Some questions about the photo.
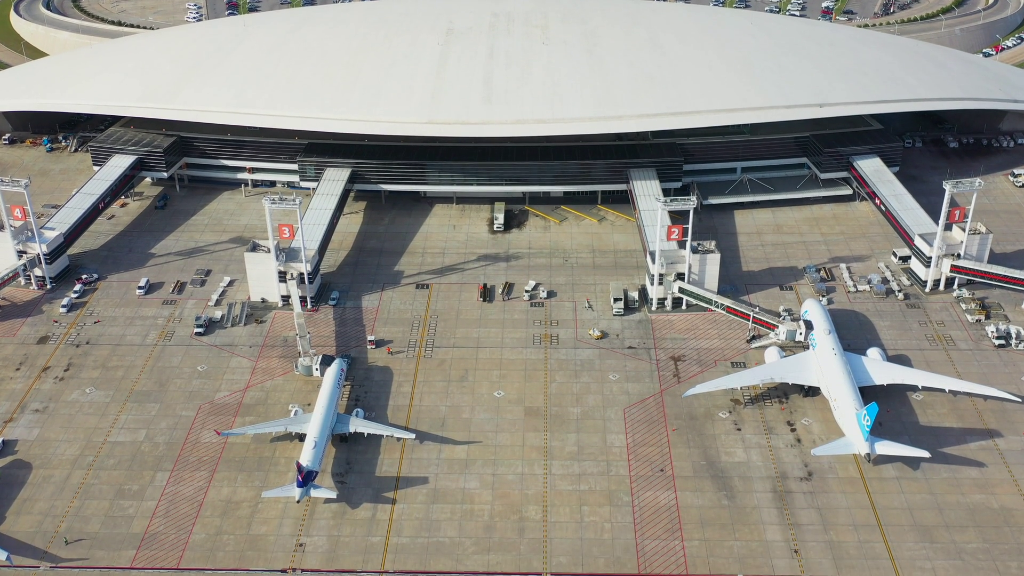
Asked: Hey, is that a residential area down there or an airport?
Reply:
airport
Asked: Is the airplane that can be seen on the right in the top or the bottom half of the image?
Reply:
bottom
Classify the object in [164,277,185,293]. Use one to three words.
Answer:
work vehicle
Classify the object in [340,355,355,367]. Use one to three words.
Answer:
vehicle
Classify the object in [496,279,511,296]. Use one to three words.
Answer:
work vehicle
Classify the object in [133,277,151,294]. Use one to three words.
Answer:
vehicle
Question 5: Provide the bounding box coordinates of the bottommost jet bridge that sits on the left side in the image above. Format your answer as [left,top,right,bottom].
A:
[278,273,336,380]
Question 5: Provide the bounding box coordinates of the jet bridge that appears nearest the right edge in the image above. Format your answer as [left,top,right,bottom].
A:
[939,254,1024,317]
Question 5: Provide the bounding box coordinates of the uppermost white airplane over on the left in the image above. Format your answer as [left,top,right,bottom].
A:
[213,359,418,505]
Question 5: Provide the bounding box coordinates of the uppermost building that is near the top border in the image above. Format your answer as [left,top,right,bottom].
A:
[0,0,1024,207]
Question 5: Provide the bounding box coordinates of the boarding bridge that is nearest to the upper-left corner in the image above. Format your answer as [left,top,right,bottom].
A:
[0,251,39,288]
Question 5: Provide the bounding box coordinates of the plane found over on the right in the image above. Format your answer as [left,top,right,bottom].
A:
[682,298,1023,465]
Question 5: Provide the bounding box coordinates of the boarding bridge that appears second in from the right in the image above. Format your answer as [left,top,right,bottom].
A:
[663,274,820,355]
